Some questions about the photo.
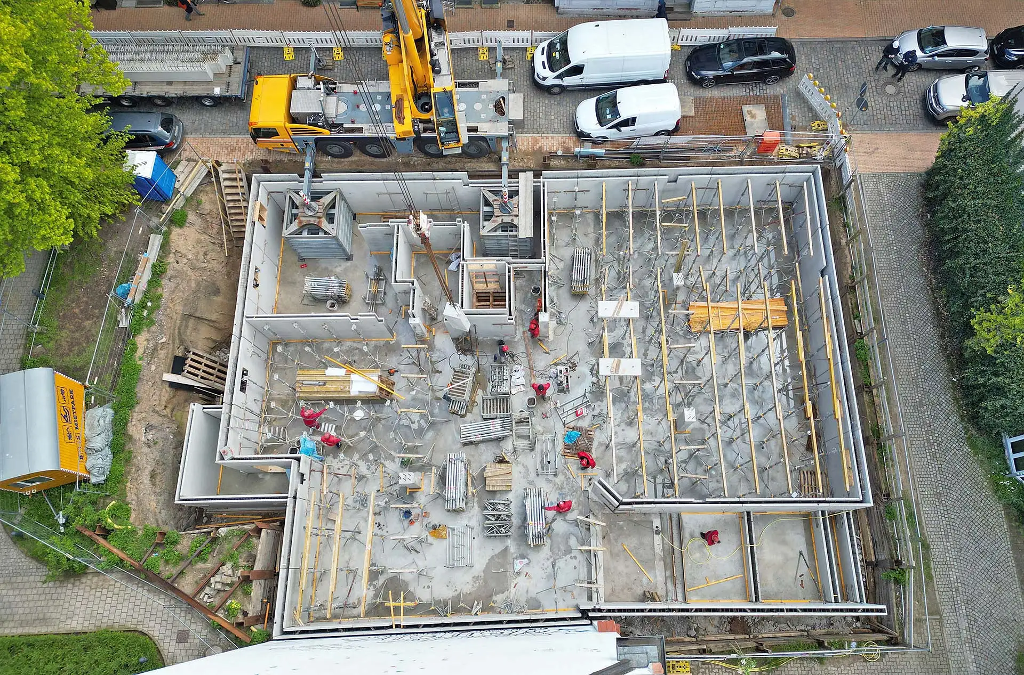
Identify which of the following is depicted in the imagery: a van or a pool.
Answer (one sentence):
The one in the frame is a van.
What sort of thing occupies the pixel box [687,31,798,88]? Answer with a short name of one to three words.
car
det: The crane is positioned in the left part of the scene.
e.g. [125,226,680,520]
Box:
[245,0,523,217]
